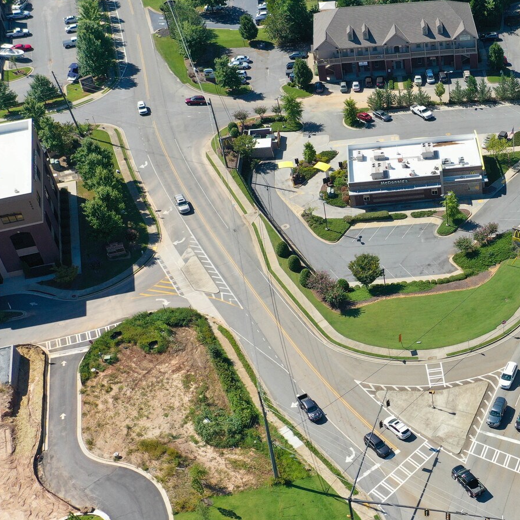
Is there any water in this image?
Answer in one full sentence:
No, there is no water in the image.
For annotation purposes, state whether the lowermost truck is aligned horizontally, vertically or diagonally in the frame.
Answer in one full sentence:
What the image shows is the lowermost truck lying diagonally.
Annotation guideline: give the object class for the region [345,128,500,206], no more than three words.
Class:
building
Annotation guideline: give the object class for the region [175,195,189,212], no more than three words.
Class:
vehicle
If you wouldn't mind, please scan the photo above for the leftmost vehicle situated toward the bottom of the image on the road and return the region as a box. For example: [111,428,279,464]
[295,393,324,423]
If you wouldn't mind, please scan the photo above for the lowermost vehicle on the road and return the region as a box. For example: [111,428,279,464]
[451,465,485,500]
